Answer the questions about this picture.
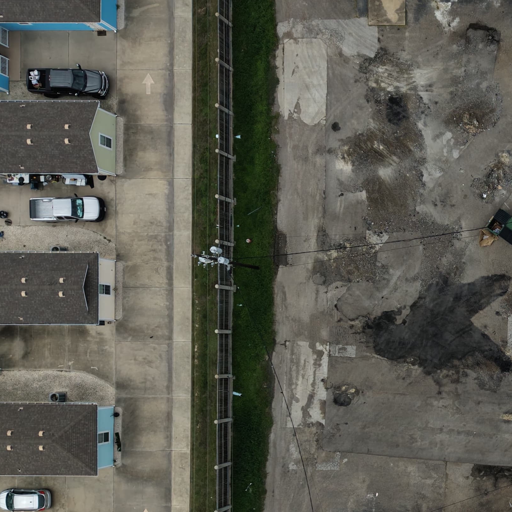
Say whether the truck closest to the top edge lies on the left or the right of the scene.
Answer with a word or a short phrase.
left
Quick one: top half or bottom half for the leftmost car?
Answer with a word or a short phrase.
bottom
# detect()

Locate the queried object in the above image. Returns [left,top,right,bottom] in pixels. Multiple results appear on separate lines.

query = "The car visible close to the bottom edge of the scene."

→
[0,482,53,512]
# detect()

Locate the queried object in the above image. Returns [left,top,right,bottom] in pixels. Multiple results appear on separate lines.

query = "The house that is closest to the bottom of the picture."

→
[0,399,115,476]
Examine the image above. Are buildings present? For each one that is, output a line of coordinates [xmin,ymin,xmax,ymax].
[0,98,117,175]
[0,0,117,94]
[0,249,117,326]
[0,399,115,476]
